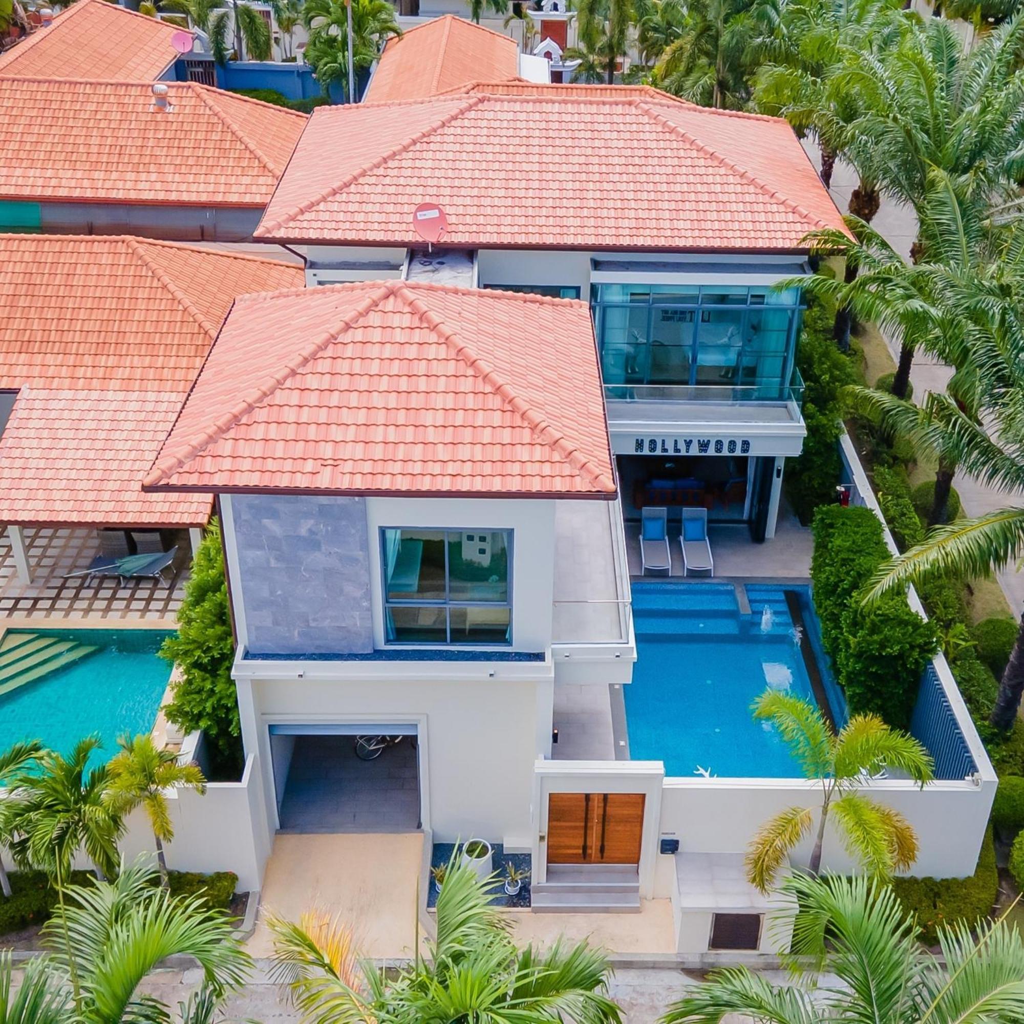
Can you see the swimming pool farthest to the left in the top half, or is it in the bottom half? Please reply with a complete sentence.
The swimming pool farthest to the left sits in the bottom half of the picture.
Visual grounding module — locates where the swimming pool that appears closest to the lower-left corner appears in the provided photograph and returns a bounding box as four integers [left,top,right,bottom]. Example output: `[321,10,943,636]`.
[0,631,168,776]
